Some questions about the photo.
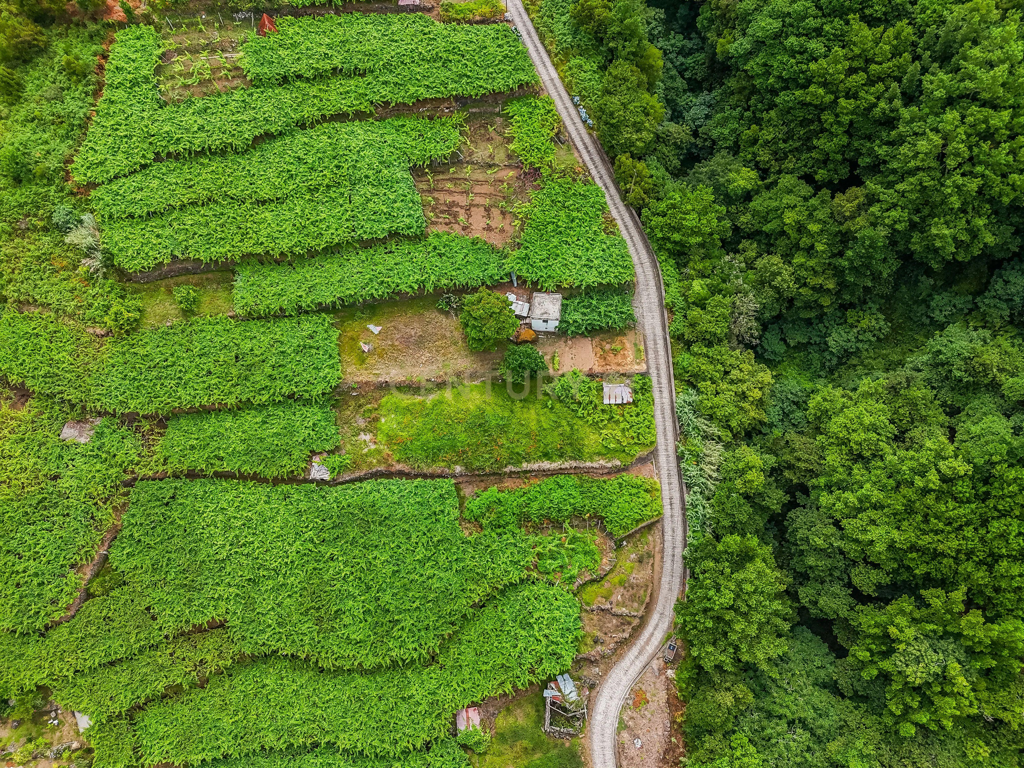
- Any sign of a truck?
No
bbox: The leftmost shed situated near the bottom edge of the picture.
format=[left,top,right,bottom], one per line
[456,706,480,730]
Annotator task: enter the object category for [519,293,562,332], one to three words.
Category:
house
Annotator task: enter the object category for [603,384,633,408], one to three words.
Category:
shed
